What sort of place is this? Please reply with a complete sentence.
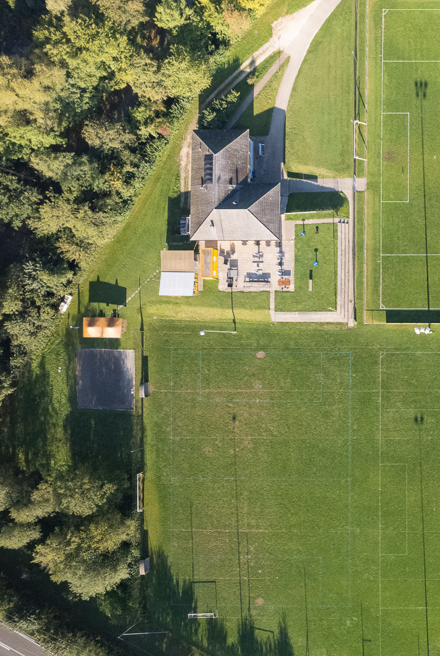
The area seen from above is a sports ground.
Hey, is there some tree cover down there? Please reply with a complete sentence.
Yes, there is tree cover in the image.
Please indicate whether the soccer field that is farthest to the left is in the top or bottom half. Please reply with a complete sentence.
The soccer field that is farthest to the left sits in the bottom half of the picture.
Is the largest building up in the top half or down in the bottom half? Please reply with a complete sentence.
The largest building is in the top half of the image.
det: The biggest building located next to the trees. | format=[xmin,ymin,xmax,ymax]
[189,128,283,240]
